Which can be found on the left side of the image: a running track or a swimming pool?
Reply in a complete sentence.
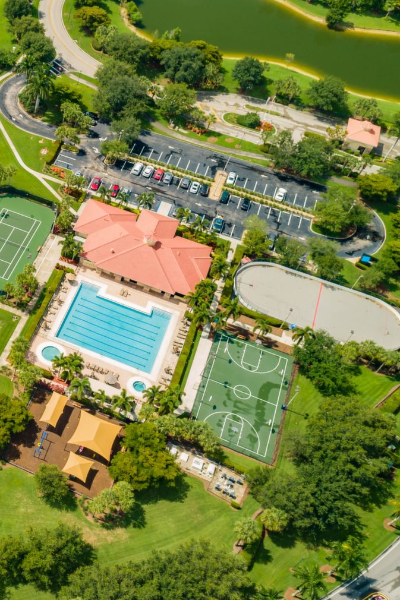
The one visible on the left side of the image is a swimming pool.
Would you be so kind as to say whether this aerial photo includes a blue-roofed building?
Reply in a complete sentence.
No, there appears to be no blue-roofed building in this shot.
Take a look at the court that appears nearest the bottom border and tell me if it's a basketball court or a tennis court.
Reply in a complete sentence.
The court that appears nearest the bottom border can be classified as a basketball court.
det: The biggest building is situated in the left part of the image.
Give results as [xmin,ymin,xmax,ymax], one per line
[74,199,213,303]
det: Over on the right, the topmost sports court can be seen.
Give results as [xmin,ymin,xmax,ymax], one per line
[235,261,400,354]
